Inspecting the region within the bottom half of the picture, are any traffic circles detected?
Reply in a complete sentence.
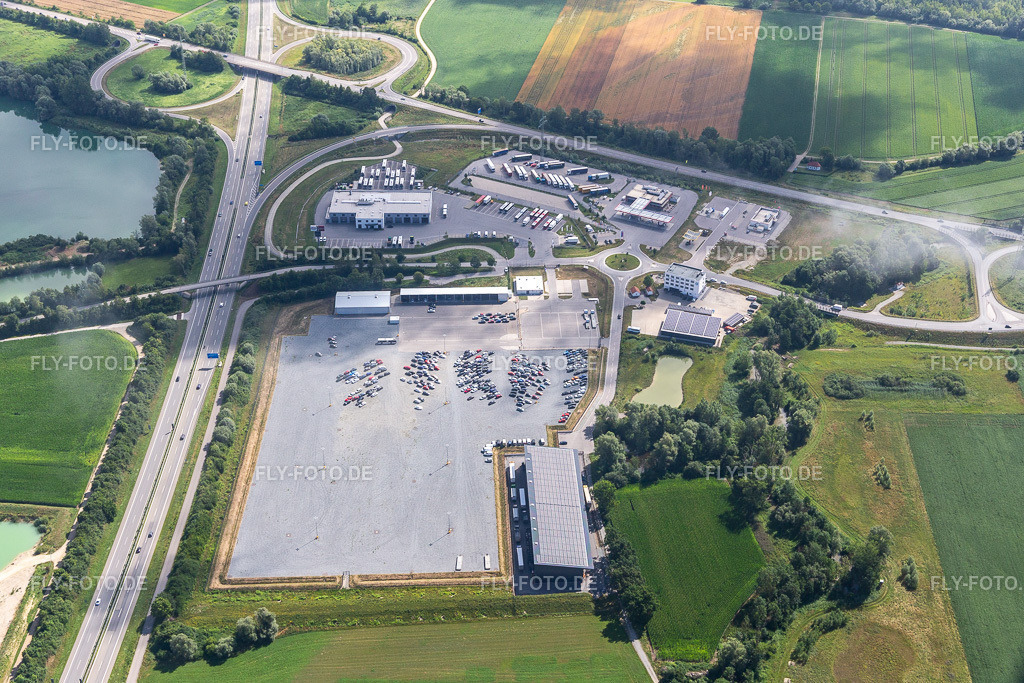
No, no traffic circle appears within the bottom half of the picture.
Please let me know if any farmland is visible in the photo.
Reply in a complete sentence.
Yes, some farmland is visible.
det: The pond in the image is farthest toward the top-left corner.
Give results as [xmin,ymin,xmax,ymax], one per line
[0,265,96,306]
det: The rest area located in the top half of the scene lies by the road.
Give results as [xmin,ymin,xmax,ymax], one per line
[448,150,698,259]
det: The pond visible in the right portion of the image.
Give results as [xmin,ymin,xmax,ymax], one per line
[631,357,692,409]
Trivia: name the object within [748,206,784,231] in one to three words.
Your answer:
building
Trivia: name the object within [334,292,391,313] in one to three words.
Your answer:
hangar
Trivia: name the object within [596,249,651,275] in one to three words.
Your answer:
roundabout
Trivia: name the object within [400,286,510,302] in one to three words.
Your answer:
shed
